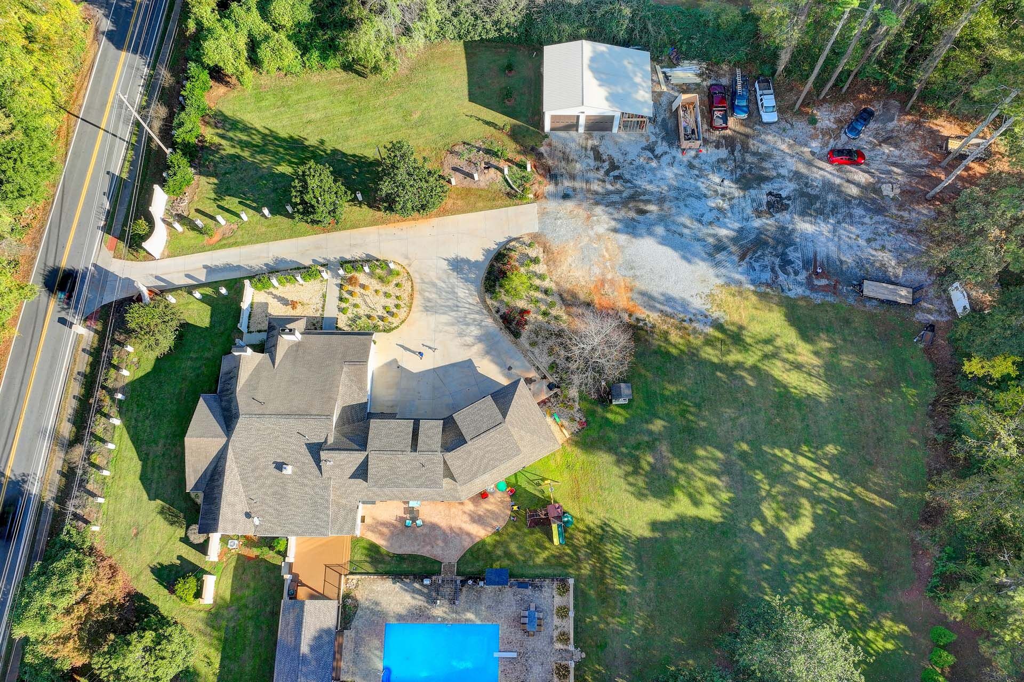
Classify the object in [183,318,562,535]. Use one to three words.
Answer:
house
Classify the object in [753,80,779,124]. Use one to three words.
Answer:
truck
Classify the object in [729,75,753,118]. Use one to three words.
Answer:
truck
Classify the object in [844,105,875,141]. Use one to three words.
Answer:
car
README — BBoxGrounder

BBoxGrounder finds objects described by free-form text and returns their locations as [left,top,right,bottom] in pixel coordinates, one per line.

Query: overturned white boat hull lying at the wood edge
[945,281,973,316]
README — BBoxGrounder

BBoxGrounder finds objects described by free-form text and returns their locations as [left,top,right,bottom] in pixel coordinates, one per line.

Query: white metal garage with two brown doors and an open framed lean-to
[542,37,652,132]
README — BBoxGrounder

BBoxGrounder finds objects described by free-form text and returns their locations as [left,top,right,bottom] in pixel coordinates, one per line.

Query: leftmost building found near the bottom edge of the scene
[273,601,343,682]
